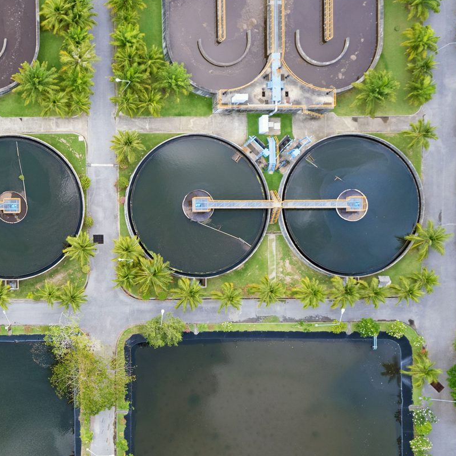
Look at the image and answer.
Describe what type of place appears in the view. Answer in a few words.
industrial area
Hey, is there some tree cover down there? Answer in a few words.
Yes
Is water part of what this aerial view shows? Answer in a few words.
Yes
